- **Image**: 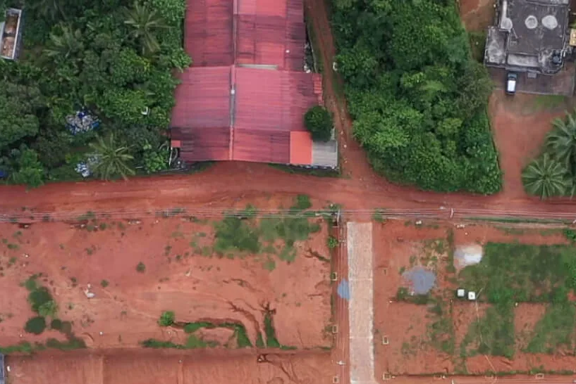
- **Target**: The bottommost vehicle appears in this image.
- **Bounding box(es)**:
[504,72,517,94]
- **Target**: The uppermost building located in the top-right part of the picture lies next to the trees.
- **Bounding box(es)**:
[486,0,569,79]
